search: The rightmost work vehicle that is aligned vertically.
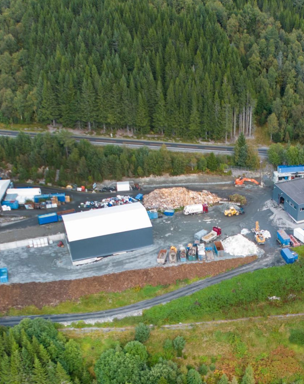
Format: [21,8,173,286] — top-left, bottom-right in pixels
[254,220,266,244]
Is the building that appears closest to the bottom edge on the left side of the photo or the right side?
left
